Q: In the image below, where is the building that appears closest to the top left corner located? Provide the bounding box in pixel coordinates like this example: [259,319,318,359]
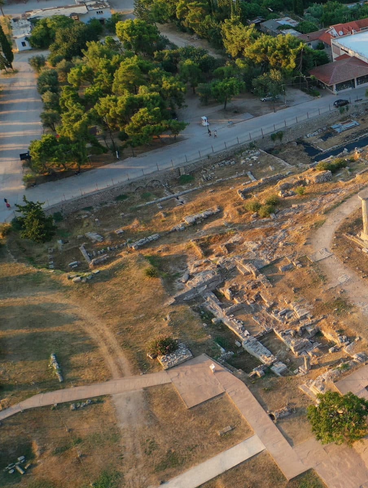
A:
[10,16,35,50]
